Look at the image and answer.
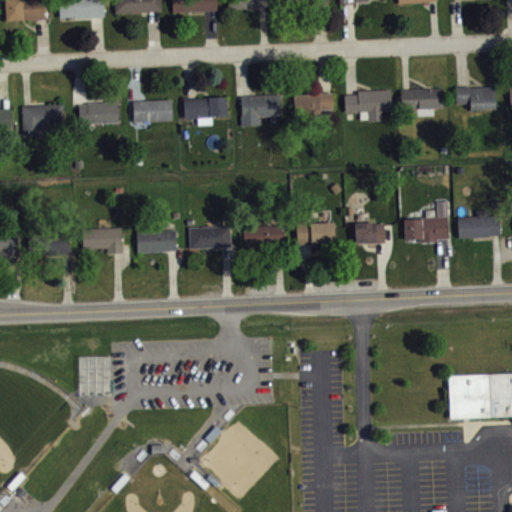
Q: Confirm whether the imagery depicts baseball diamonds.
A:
Yes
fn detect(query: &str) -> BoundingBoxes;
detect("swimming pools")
[206,135,223,152]
[456,206,467,217]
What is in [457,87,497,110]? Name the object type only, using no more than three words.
house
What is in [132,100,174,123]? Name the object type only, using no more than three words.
house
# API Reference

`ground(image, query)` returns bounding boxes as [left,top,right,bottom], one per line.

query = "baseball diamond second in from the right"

[102,456,230,512]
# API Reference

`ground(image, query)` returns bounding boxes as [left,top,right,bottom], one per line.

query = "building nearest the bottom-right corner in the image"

[448,375,512,422]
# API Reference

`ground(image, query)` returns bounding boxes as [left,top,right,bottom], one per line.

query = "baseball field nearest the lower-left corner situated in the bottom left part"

[0,366,74,490]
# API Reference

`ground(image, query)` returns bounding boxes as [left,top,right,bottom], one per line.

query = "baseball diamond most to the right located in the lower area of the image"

[200,404,290,512]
